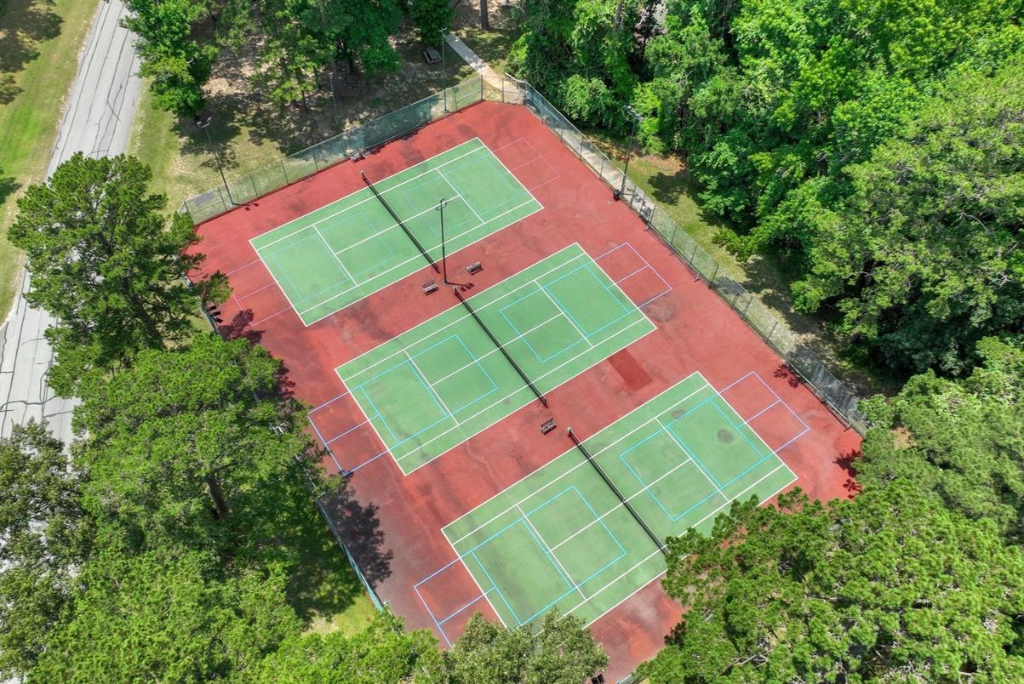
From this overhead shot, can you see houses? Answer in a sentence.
No, there's no house here.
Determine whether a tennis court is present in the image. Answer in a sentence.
Yes, there is a tennis court in the image.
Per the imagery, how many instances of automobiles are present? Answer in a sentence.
Not a single automobile can be seen.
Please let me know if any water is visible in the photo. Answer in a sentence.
No, no water is visible.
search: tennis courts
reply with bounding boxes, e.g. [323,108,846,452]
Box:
[309,243,672,476]
[222,138,561,326]
[414,372,809,663]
